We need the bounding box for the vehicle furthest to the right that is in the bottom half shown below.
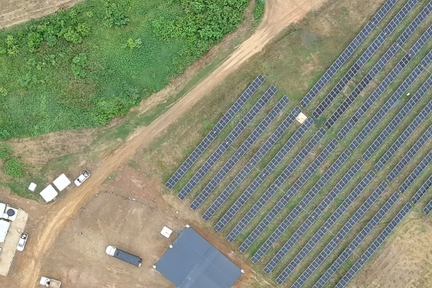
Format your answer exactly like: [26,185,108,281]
[106,246,143,266]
